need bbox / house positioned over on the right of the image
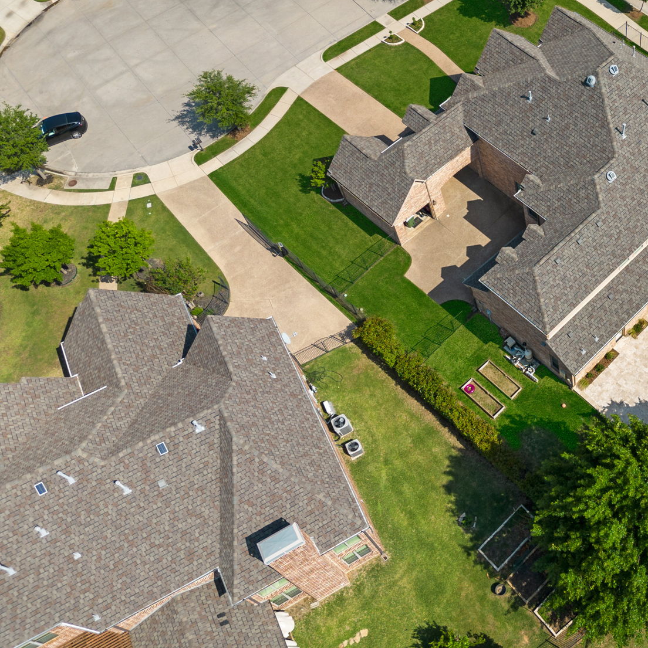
[326,6,648,387]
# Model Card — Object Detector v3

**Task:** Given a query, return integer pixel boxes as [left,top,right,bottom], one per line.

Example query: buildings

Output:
[326,6,648,387]
[0,288,386,648]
